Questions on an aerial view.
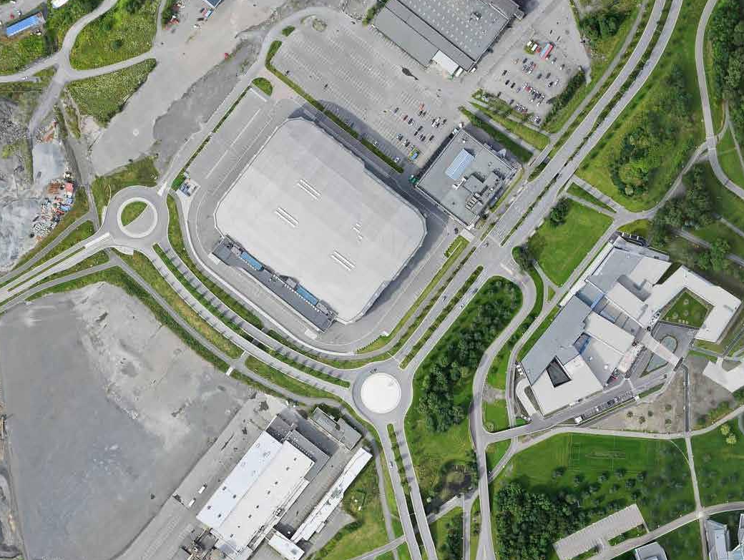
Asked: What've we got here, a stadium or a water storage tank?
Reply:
stadium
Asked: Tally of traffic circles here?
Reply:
2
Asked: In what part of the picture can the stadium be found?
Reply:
center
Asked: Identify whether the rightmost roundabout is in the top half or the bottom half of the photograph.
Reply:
bottom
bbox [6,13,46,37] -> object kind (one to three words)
shed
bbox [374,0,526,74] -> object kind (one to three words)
building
